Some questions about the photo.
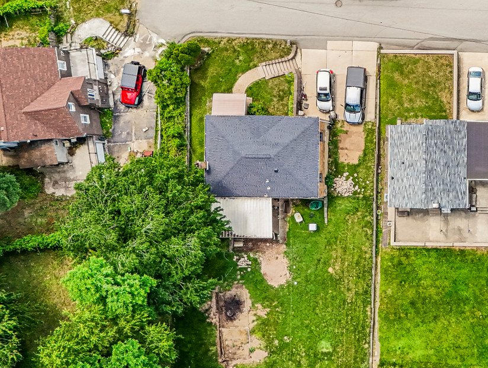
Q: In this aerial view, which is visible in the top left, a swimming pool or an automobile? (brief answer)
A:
automobile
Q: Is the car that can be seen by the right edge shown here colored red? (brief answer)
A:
No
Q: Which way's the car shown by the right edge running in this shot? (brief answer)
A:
up and down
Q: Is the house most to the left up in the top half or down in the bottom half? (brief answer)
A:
top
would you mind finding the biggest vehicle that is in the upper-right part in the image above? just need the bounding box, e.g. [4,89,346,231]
[342,65,367,125]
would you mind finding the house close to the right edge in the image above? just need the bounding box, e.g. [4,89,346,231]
[381,120,488,213]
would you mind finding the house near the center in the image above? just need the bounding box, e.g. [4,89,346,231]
[186,93,327,243]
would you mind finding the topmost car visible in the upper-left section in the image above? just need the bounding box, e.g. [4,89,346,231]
[117,60,146,109]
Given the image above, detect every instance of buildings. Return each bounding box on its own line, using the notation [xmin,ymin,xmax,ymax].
[186,93,327,243]
[381,120,488,213]
[0,43,108,166]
